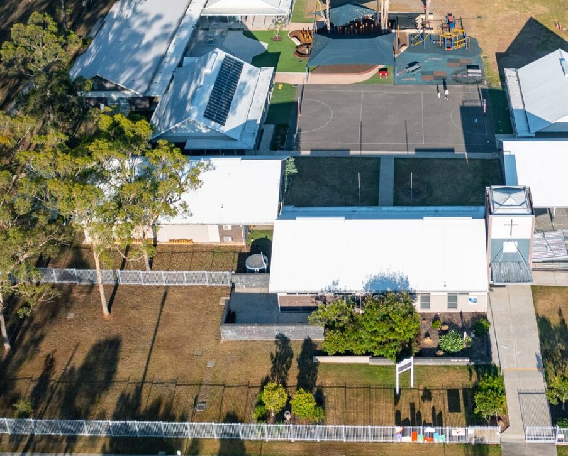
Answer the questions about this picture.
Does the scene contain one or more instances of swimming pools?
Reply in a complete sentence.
No, I can't see a single swimming pool in this photo.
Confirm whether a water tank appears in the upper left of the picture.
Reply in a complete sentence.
No, the scene shows no water tank in the upper left of the picture.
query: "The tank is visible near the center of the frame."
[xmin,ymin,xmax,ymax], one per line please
[243,247,270,276]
